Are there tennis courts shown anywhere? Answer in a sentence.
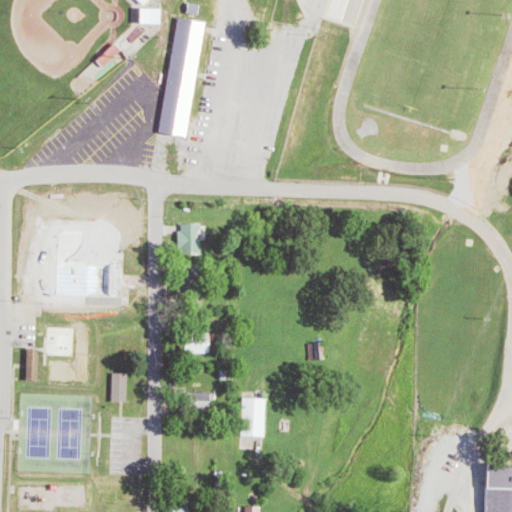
Yes, a tennis court can be made out from above.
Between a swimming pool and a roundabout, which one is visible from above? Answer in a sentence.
The image shows a swimming pool.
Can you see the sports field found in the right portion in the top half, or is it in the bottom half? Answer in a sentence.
It is in the top half that the sports field found in the right portion appears.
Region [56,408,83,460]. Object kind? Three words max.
tennis court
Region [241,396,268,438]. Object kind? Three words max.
house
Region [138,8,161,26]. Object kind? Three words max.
building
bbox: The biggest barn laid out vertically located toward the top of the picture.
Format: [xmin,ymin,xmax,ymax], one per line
[158,18,206,138]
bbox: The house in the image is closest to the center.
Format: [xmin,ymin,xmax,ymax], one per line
[178,223,207,256]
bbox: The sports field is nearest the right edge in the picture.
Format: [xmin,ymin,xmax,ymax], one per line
[346,0,512,162]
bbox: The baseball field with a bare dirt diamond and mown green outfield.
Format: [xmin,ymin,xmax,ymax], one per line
[0,0,131,157]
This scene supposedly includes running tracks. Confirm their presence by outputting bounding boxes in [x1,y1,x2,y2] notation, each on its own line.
[334,0,512,176]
